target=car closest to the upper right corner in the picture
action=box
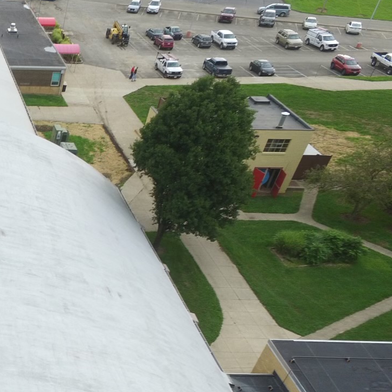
[344,20,363,34]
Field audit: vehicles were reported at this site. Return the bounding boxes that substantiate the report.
[146,0,162,14]
[211,31,240,50]
[247,59,279,77]
[303,26,342,52]
[154,35,175,49]
[256,1,292,17]
[329,53,363,75]
[302,15,320,29]
[192,34,215,48]
[200,55,235,77]
[371,52,392,75]
[127,0,142,14]
[161,24,192,40]
[104,20,135,49]
[219,8,236,23]
[144,25,165,41]
[344,20,363,34]
[273,28,306,50]
[154,49,185,78]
